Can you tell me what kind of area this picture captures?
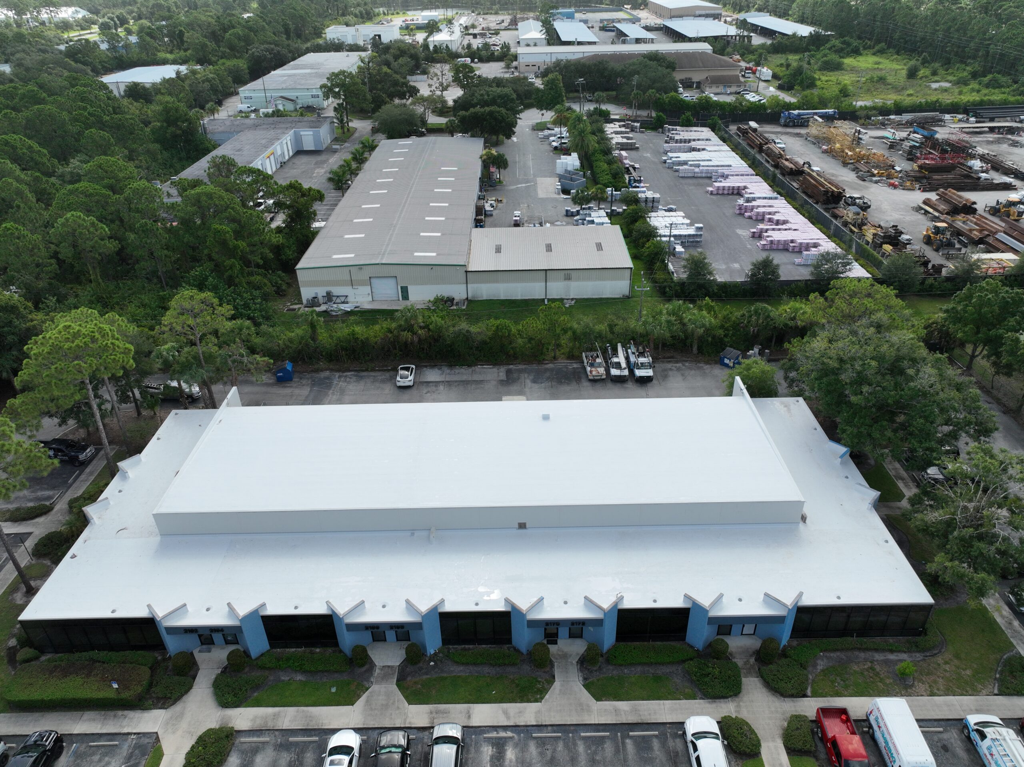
industrial area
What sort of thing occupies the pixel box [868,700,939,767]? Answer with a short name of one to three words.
van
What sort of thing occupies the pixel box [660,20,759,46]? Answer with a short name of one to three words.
shed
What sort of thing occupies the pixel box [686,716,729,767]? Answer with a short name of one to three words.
car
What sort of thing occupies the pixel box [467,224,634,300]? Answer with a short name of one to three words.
building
